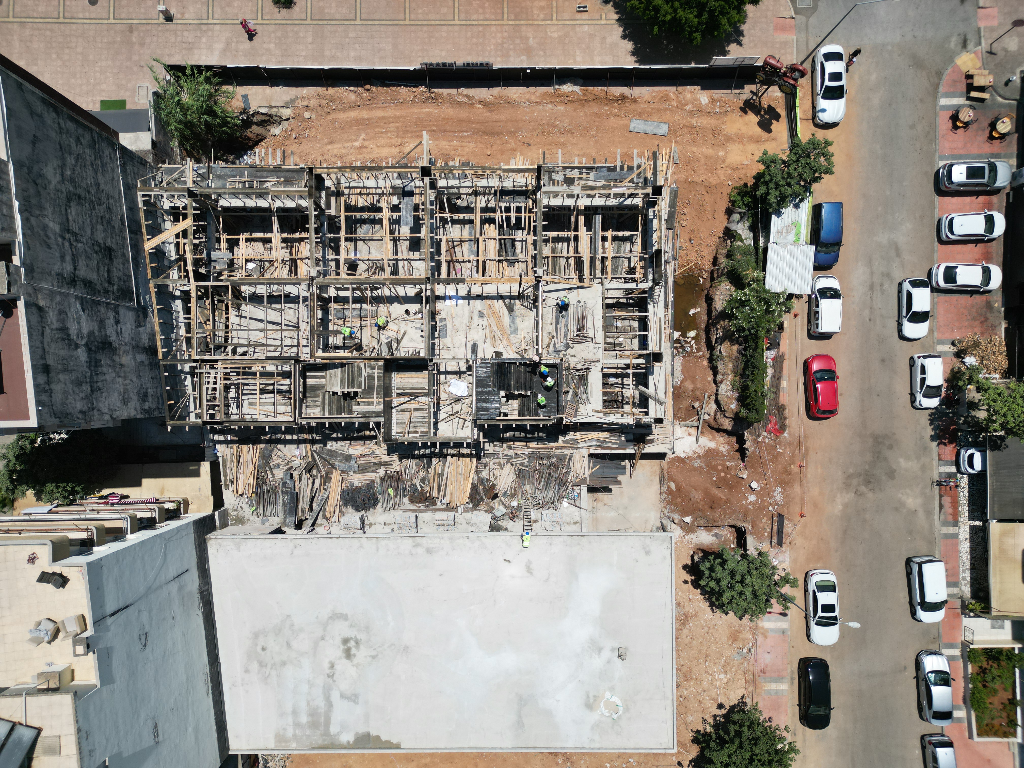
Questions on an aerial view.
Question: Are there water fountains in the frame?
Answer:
No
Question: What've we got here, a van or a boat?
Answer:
van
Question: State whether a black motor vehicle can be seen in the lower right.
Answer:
Yes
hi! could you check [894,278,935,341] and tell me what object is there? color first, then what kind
white car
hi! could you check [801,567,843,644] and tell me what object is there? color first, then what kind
white car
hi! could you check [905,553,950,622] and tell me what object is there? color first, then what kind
white vehicle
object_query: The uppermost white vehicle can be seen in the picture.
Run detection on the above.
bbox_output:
[808,44,850,129]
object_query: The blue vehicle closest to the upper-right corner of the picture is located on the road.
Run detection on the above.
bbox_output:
[811,200,848,270]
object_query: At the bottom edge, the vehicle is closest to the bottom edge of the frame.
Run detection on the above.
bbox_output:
[918,728,958,768]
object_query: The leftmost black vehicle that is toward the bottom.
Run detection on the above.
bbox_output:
[795,653,836,728]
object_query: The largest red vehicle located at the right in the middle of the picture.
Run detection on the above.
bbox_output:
[802,354,841,418]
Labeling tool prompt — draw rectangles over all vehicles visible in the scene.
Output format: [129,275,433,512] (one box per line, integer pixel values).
[905,353,946,410]
[894,278,935,341]
[934,207,1005,244]
[808,44,850,129]
[934,156,1010,195]
[801,567,843,644]
[918,728,958,768]
[807,275,848,339]
[905,553,950,622]
[926,258,1000,294]
[811,200,848,270]
[912,646,956,726]
[802,354,841,418]
[945,445,986,476]
[795,653,836,728]
[753,56,809,102]
[941,381,961,410]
